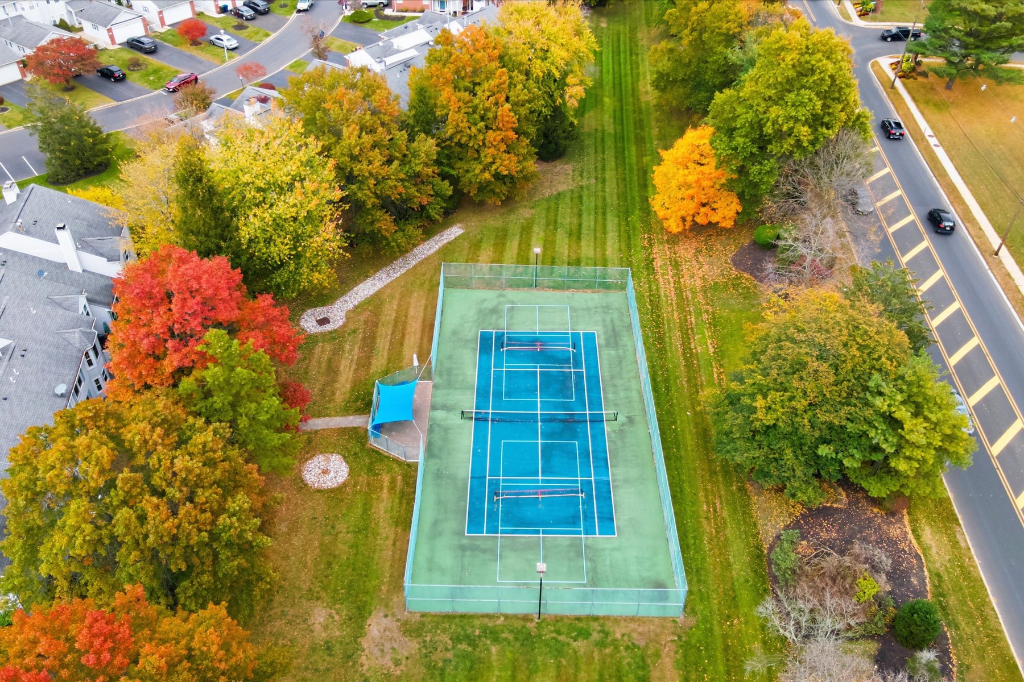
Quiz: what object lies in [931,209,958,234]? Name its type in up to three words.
car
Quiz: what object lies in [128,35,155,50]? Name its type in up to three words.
car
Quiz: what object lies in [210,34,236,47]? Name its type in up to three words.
vehicle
